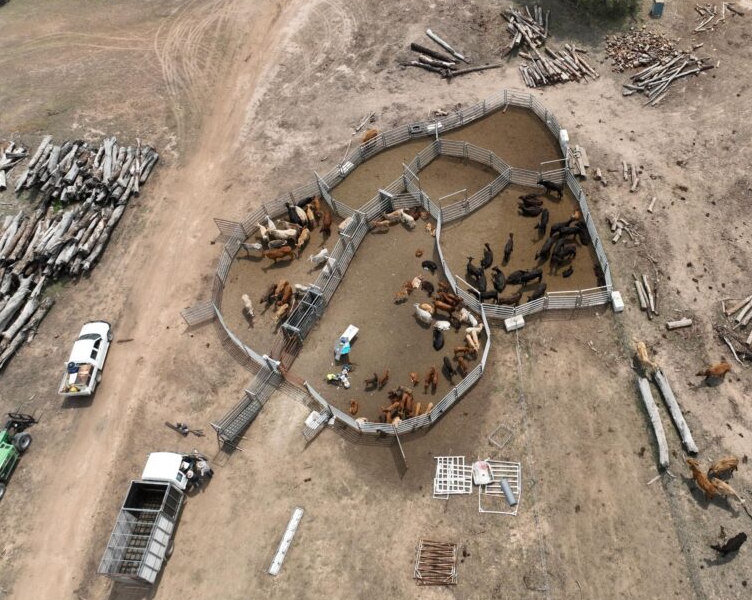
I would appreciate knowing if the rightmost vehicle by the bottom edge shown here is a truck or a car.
truck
